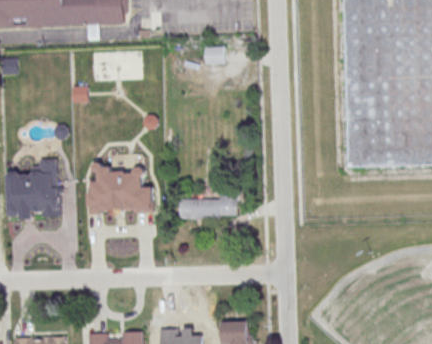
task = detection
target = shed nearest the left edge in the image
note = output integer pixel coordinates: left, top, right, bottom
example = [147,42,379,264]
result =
[1,58,20,76]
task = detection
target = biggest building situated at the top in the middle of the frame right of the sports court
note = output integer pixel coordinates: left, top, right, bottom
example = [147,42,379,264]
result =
[204,47,228,66]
